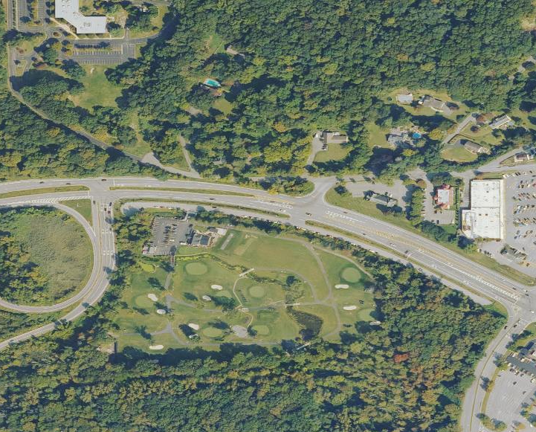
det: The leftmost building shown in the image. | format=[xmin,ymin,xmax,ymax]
[55,0,106,34]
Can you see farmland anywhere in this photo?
No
